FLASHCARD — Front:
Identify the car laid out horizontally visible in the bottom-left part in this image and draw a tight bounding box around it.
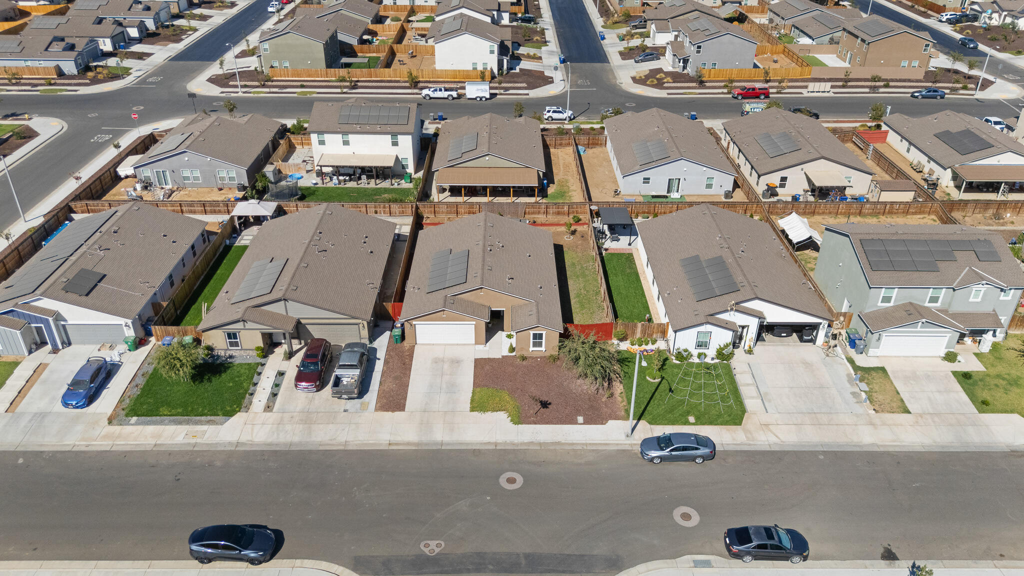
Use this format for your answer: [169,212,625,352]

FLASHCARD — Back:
[187,524,280,566]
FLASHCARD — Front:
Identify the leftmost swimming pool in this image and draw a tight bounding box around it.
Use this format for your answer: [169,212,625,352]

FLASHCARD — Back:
[28,222,69,260]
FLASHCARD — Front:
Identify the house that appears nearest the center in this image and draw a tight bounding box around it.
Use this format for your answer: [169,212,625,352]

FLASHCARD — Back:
[398,210,564,359]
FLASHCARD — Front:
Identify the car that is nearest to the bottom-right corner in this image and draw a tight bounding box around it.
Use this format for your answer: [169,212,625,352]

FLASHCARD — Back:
[721,525,810,565]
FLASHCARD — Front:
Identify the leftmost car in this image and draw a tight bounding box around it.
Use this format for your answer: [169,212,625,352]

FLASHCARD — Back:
[57,356,114,409]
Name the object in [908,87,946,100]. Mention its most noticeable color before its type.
blue vehicle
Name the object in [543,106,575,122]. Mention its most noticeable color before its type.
white car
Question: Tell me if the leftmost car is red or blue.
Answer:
blue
